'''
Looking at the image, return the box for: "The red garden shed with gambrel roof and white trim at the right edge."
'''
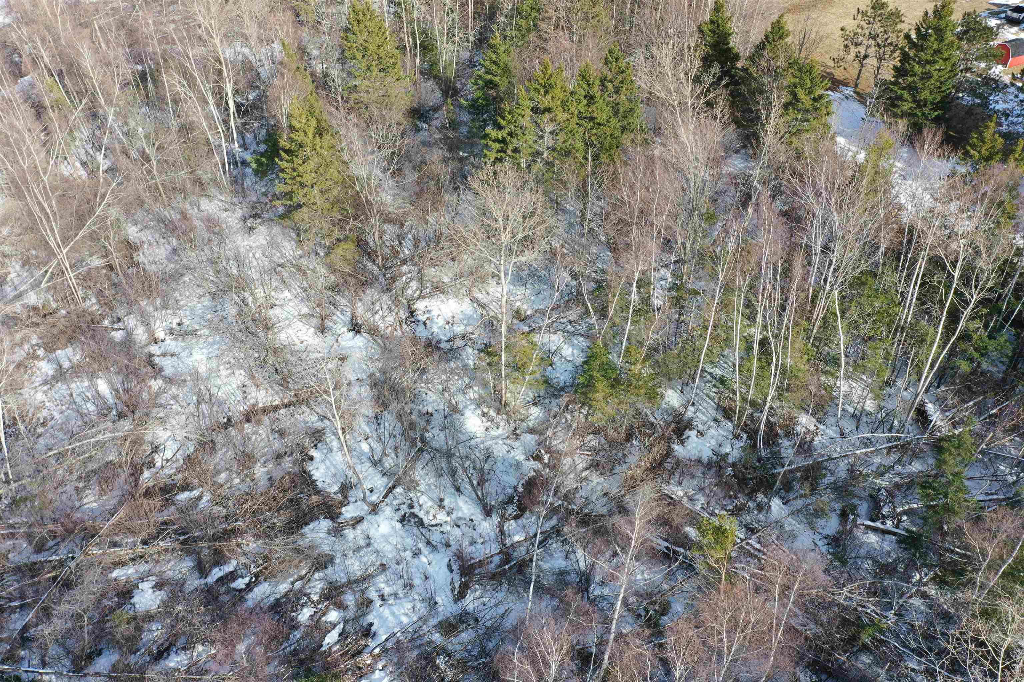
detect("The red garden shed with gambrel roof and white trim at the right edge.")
[983,31,1024,67]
